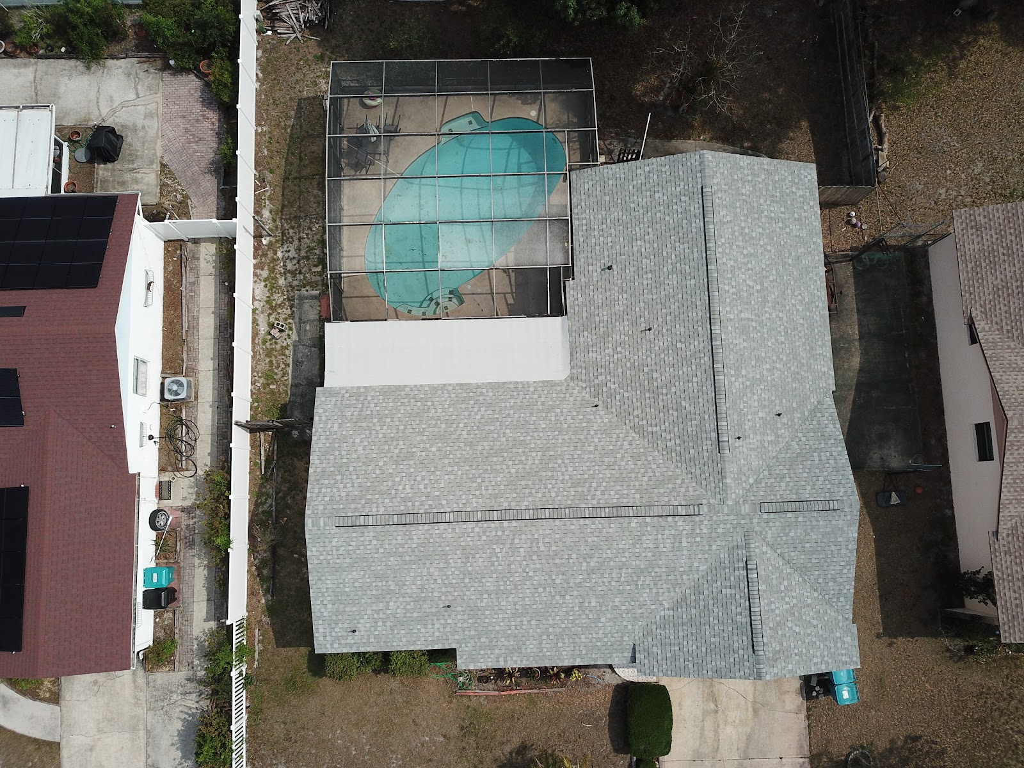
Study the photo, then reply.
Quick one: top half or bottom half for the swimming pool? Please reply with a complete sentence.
The swimming pool is in the top half of the image.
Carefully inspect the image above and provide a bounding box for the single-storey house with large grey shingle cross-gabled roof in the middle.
[305,151,861,680]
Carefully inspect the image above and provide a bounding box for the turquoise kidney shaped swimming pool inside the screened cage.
[365,111,566,316]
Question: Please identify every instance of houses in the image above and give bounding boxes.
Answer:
[305,151,861,680]
[927,201,1024,643]
[0,191,164,681]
